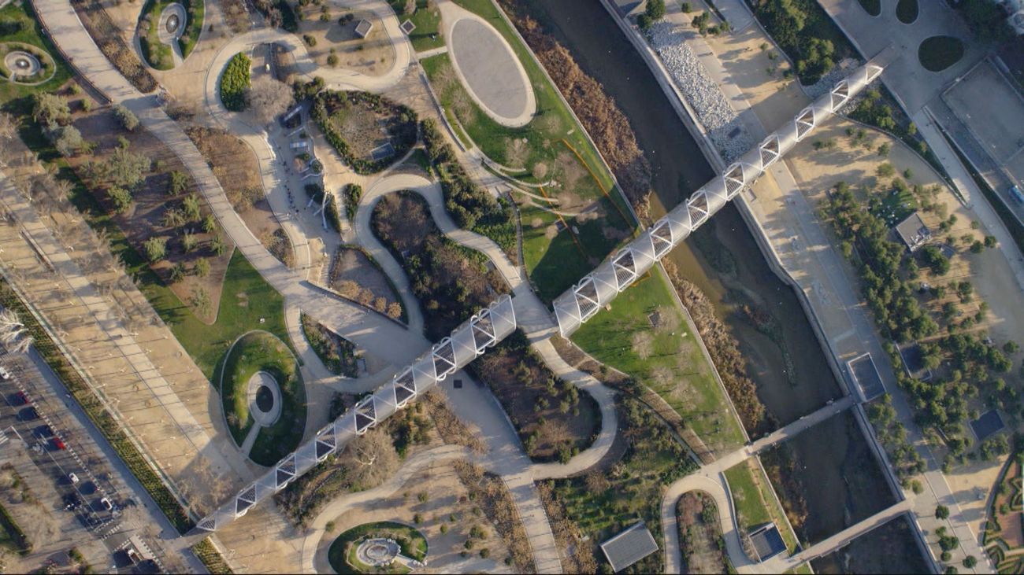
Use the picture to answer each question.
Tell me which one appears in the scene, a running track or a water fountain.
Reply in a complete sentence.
Looking from above, you can make out a water fountain.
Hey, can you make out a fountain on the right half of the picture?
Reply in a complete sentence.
No, on the right half of the picture there is no fountain.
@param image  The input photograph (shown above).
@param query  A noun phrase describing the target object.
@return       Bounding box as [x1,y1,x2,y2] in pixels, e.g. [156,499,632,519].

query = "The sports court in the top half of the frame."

[940,55,1024,187]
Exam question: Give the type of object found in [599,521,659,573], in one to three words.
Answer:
building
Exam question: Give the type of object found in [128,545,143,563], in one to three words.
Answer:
vehicle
